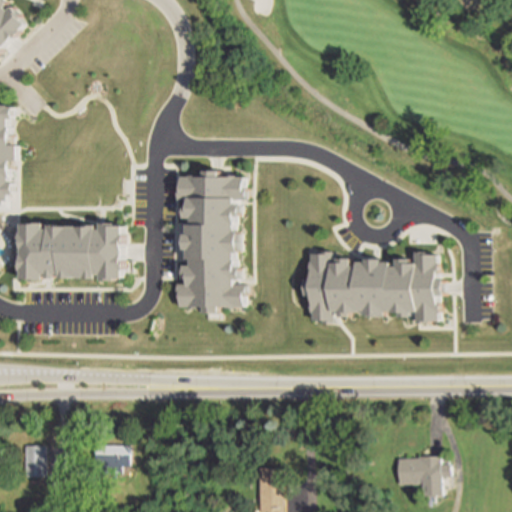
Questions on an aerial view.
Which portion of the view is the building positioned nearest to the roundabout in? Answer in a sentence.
The building positioned nearest to the roundabout is located in the right region of the scene.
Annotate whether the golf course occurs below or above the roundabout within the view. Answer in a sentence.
The golf course appears above the roundabout in the picture.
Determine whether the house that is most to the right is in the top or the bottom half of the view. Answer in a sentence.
You can find the house that is most to the right in the bottom half.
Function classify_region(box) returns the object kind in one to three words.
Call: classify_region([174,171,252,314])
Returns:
building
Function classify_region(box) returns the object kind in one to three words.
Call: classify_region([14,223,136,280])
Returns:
building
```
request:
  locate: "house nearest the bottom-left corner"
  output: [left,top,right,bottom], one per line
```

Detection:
[25,446,48,478]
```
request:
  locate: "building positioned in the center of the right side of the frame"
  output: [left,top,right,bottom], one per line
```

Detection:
[304,251,446,328]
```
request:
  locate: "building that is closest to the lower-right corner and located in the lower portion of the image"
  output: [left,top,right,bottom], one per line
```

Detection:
[396,457,452,506]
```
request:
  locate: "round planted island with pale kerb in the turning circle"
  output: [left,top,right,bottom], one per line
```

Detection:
[362,198,393,228]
